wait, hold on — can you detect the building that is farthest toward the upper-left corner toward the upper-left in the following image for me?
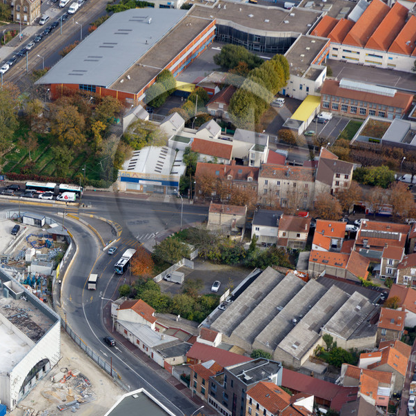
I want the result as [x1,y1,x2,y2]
[12,0,41,24]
